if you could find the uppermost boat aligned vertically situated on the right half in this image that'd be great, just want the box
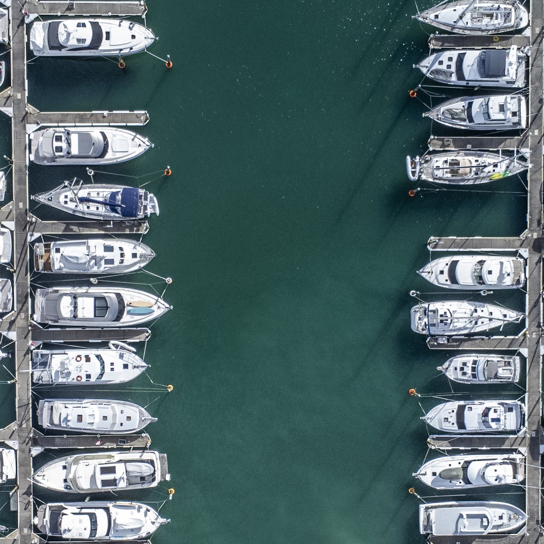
[406,152,420,180]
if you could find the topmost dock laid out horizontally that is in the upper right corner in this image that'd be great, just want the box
[427,25,530,59]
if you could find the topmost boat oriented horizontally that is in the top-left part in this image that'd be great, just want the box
[31,18,160,60]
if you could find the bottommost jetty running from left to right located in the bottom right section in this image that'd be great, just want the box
[426,524,526,544]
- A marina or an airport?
marina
